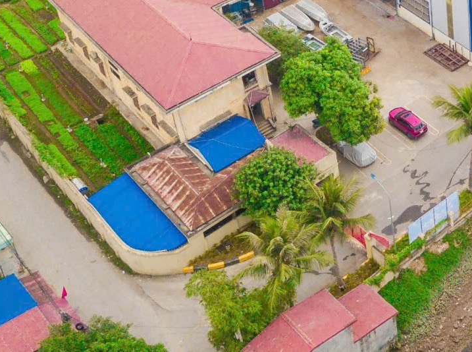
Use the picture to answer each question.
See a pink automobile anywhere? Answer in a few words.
Yes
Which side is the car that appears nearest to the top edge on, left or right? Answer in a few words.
right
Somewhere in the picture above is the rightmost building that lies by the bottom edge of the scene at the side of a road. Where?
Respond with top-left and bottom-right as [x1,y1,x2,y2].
[232,261,398,352]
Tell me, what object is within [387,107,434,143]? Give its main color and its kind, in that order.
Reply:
pink car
